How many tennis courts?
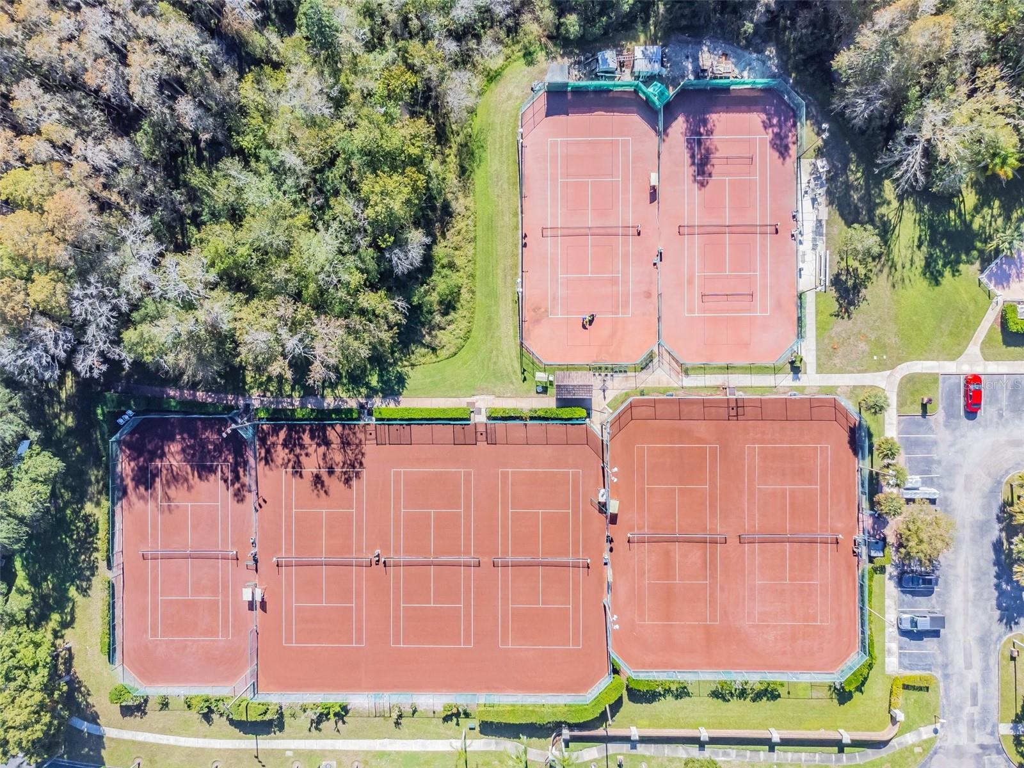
8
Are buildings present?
Yes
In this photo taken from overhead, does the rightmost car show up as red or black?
red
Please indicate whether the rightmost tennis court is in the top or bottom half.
bottom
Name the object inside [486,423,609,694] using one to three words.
tennis court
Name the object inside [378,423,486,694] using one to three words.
tennis court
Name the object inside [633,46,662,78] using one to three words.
shed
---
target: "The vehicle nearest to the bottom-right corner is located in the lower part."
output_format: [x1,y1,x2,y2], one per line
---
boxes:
[897,614,946,633]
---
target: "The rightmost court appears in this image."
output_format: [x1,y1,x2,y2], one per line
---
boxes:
[732,398,860,672]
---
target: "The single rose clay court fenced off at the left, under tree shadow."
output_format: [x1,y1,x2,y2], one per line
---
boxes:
[122,419,257,686]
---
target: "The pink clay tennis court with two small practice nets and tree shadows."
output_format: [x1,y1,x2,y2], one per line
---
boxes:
[660,88,799,364]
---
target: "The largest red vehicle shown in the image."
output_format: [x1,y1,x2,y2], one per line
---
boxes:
[964,374,985,411]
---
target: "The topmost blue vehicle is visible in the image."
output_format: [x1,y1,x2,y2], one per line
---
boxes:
[901,572,942,590]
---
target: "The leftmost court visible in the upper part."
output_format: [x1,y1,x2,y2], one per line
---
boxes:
[522,90,660,364]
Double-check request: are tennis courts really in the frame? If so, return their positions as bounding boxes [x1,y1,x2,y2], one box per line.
[258,423,378,694]
[606,398,732,672]
[378,423,486,694]
[122,419,257,686]
[522,90,660,364]
[732,398,860,672]
[660,88,799,364]
[486,423,609,694]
